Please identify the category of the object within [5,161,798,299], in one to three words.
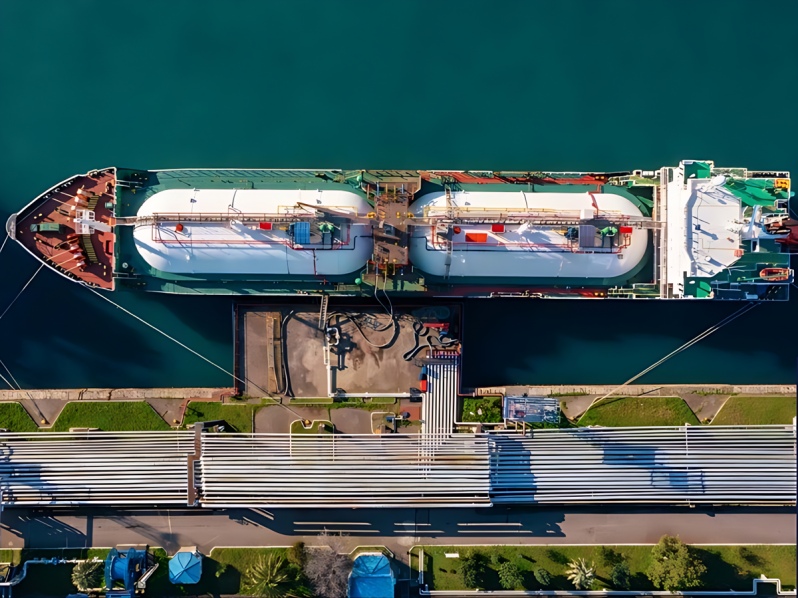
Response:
ship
